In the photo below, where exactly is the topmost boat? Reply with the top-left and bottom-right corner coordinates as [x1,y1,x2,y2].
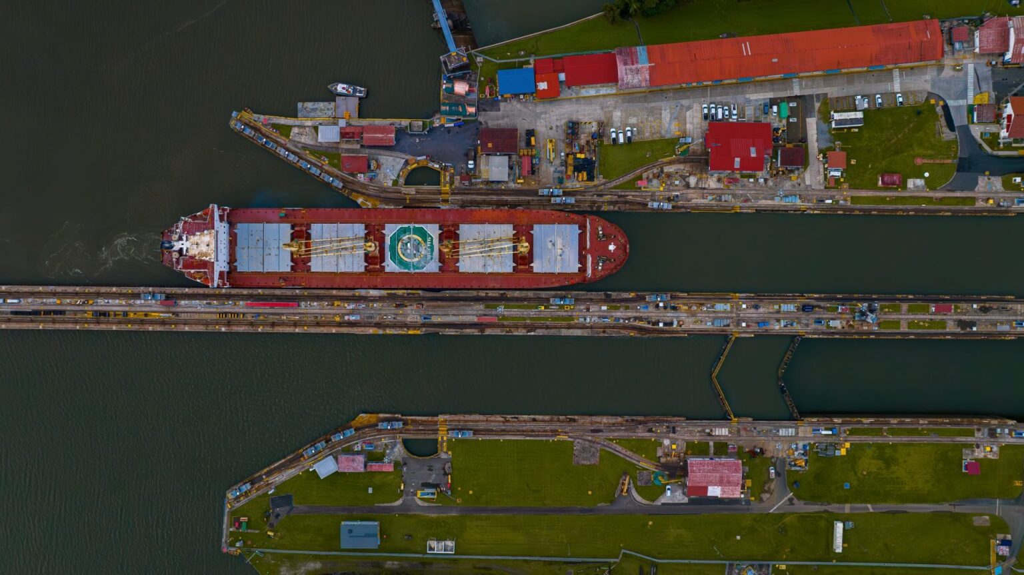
[328,83,367,98]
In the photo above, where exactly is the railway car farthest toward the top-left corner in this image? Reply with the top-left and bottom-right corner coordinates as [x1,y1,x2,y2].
[234,122,257,139]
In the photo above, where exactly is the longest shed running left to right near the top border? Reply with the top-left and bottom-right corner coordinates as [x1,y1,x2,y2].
[647,19,944,88]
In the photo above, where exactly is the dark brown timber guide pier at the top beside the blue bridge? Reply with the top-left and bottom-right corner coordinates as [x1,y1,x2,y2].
[429,0,475,58]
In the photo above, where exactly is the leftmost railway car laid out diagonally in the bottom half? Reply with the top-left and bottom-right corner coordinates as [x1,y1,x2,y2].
[229,481,253,499]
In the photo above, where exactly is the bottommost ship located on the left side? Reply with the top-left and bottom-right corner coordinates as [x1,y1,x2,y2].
[160,204,630,288]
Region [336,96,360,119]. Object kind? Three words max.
pier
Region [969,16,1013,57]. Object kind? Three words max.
house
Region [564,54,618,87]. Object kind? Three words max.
shed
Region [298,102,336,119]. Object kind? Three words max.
pier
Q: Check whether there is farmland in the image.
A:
No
